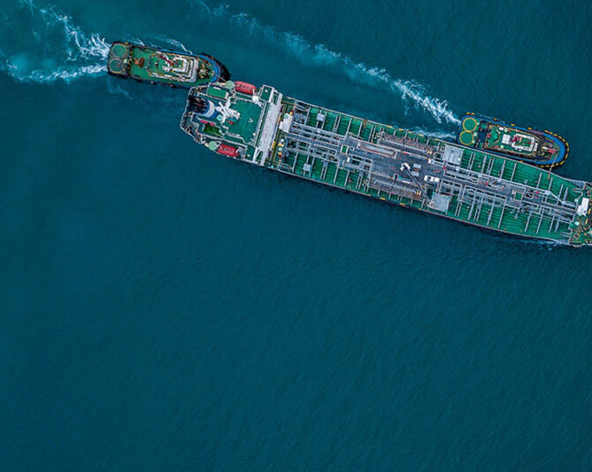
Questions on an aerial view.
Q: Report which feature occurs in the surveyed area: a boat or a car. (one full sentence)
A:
The one in the frame is a boat.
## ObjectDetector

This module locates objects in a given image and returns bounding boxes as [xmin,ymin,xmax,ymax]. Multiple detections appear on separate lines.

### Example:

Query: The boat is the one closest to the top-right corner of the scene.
[456,112,568,169]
